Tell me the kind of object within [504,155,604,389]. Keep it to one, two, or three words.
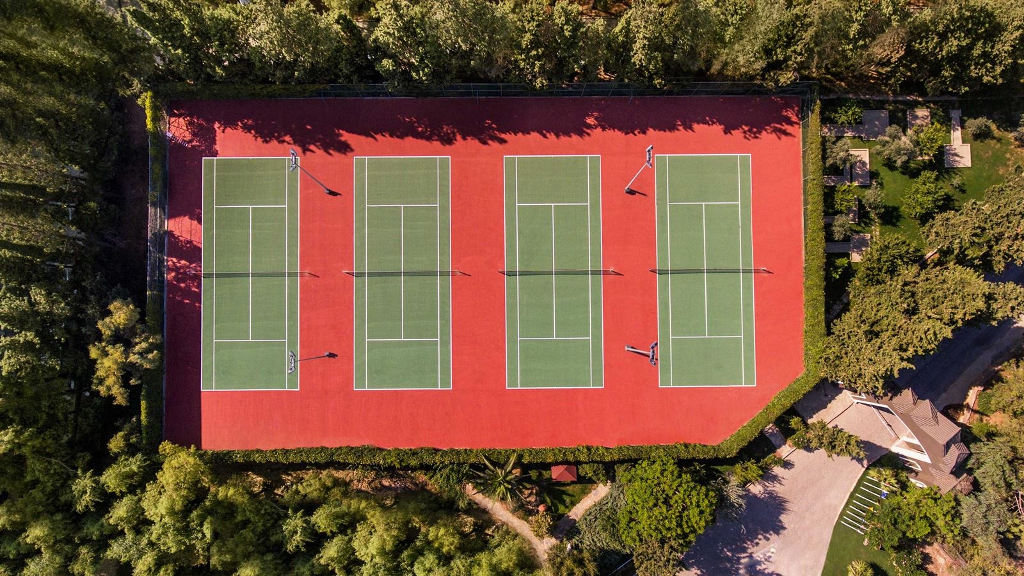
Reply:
tennis court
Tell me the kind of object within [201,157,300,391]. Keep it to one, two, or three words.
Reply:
tennis court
